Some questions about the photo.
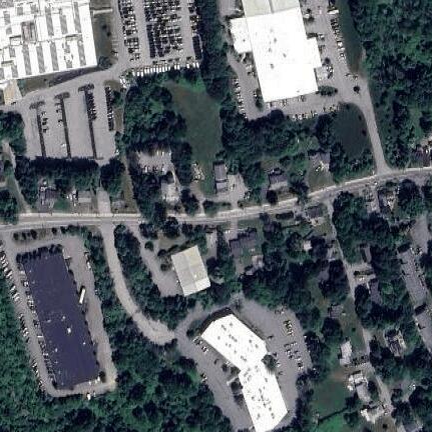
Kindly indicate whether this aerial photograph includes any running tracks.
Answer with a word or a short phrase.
No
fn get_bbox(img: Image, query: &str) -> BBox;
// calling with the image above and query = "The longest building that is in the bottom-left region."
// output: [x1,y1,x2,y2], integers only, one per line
[20,248,100,391]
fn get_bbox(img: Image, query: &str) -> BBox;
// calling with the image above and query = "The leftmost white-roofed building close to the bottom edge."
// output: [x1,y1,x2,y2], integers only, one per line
[201,314,288,432]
